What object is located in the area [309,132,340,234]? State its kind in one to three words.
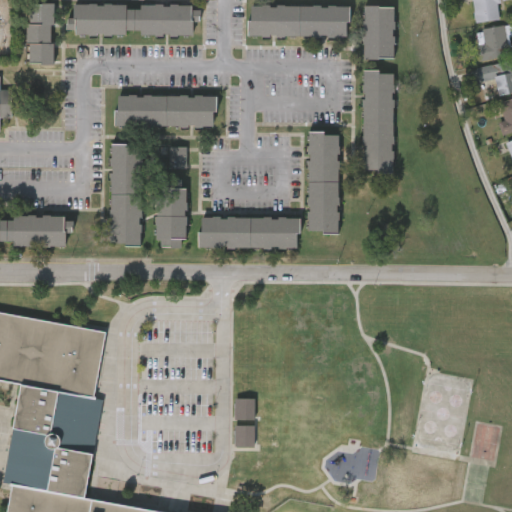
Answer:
building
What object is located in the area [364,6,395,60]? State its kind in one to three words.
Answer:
building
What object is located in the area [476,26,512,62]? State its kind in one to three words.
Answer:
house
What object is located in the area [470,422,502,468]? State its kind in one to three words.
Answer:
basketball court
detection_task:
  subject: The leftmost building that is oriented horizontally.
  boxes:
[0,216,74,248]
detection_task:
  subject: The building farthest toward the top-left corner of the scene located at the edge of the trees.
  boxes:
[26,4,55,64]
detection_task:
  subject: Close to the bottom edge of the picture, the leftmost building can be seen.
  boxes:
[0,313,158,512]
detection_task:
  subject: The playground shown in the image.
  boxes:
[321,438,380,487]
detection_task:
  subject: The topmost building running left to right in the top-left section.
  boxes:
[66,4,202,38]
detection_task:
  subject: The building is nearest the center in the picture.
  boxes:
[198,218,301,250]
